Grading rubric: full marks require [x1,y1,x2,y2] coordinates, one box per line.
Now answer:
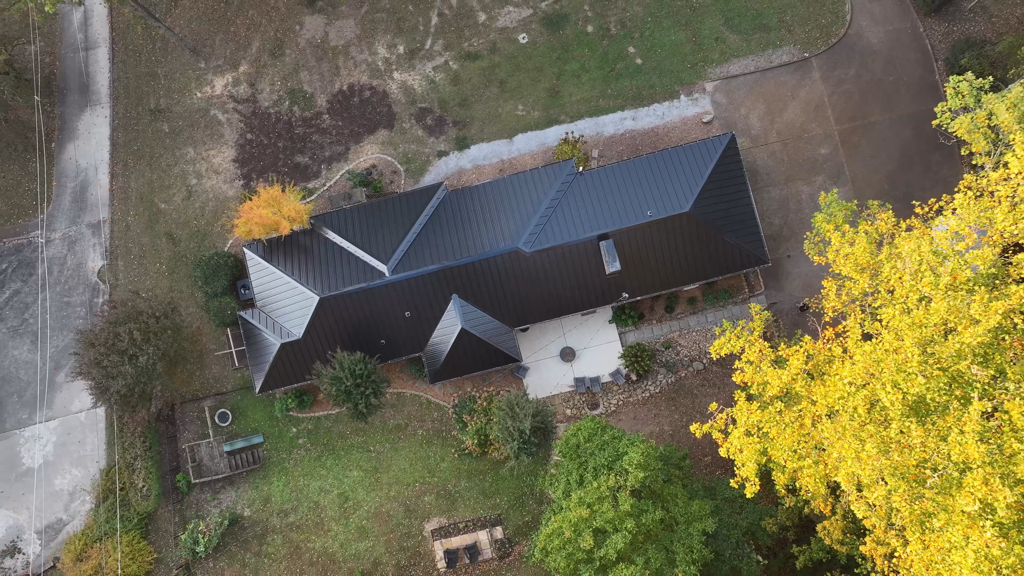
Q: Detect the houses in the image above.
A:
[235,130,770,396]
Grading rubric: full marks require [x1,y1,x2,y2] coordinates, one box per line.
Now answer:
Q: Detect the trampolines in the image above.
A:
[215,409,232,425]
